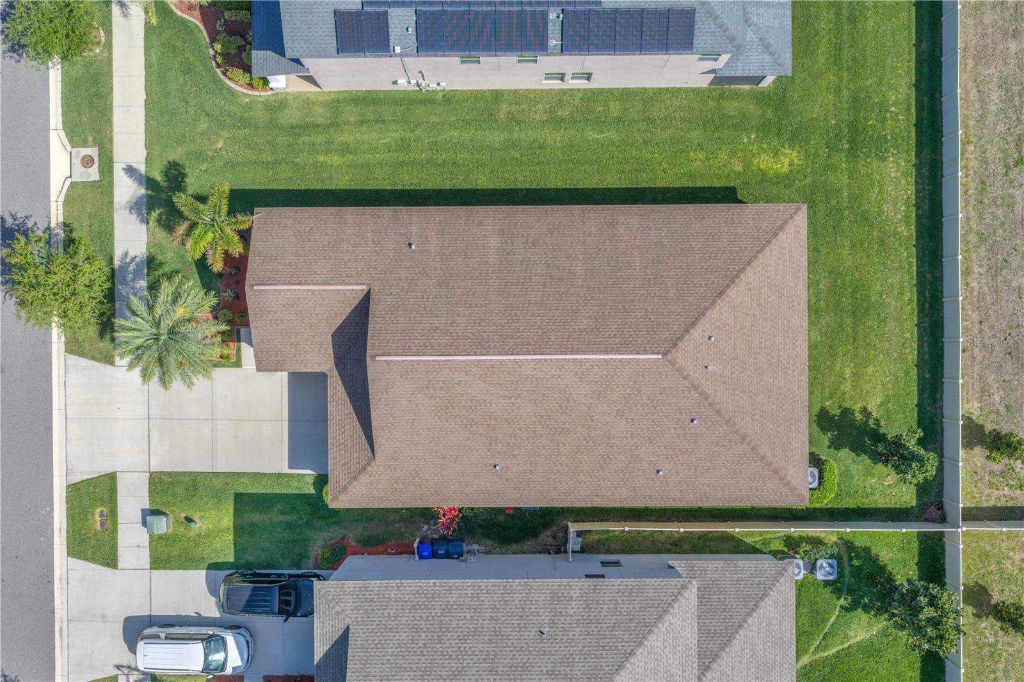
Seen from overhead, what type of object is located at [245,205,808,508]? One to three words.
house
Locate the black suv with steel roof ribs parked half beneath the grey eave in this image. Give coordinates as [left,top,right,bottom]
[219,573,325,627]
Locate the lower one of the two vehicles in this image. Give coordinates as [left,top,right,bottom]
[135,626,254,682]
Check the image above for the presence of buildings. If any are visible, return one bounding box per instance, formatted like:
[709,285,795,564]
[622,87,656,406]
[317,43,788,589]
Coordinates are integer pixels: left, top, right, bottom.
[313,552,795,682]
[245,205,808,508]
[252,0,792,94]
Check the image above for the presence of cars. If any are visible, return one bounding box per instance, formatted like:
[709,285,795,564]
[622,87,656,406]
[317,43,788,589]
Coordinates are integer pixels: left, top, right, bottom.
[219,573,325,627]
[135,626,254,682]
